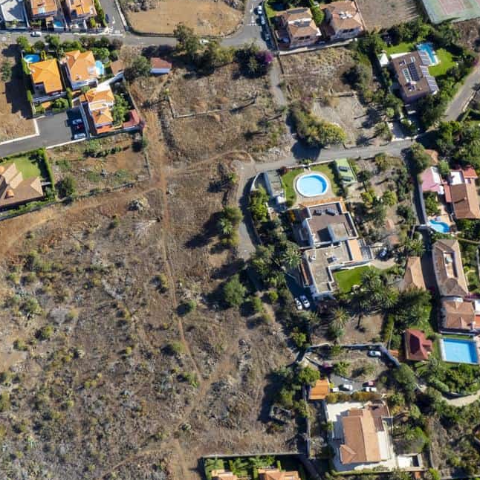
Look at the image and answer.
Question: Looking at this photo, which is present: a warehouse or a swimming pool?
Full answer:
The one in the frame is a swimming pool.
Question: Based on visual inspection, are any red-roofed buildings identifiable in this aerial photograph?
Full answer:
Yes, you can see a red-roofed building in this photo.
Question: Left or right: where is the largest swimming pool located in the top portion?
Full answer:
You can find the largest swimming pool located in the top portion on the right side of the picture.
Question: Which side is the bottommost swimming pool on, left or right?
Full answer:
You can find the bottommost swimming pool on the right side of the picture.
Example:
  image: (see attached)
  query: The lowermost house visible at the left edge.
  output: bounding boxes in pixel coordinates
[0,162,44,207]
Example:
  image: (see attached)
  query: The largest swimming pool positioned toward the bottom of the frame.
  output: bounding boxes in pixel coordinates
[439,338,479,365]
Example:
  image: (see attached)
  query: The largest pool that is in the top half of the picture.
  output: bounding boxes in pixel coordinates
[295,161,337,200]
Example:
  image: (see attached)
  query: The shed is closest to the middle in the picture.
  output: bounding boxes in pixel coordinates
[265,169,287,207]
